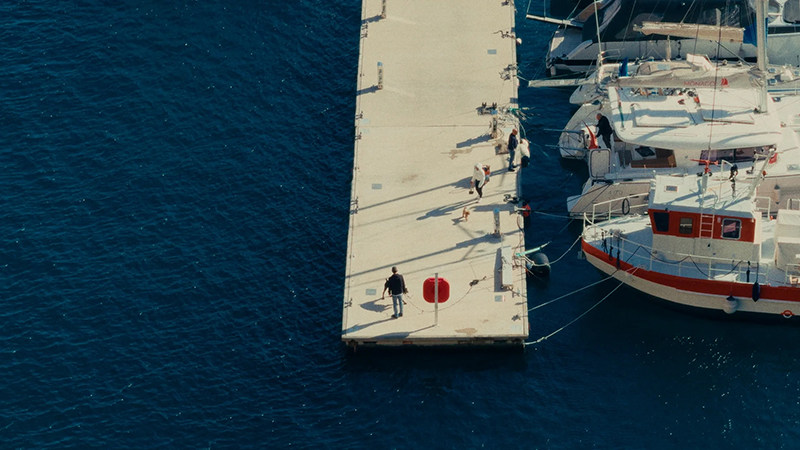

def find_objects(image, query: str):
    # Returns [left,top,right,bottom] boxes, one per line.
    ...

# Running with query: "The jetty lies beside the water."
[342,0,528,355]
